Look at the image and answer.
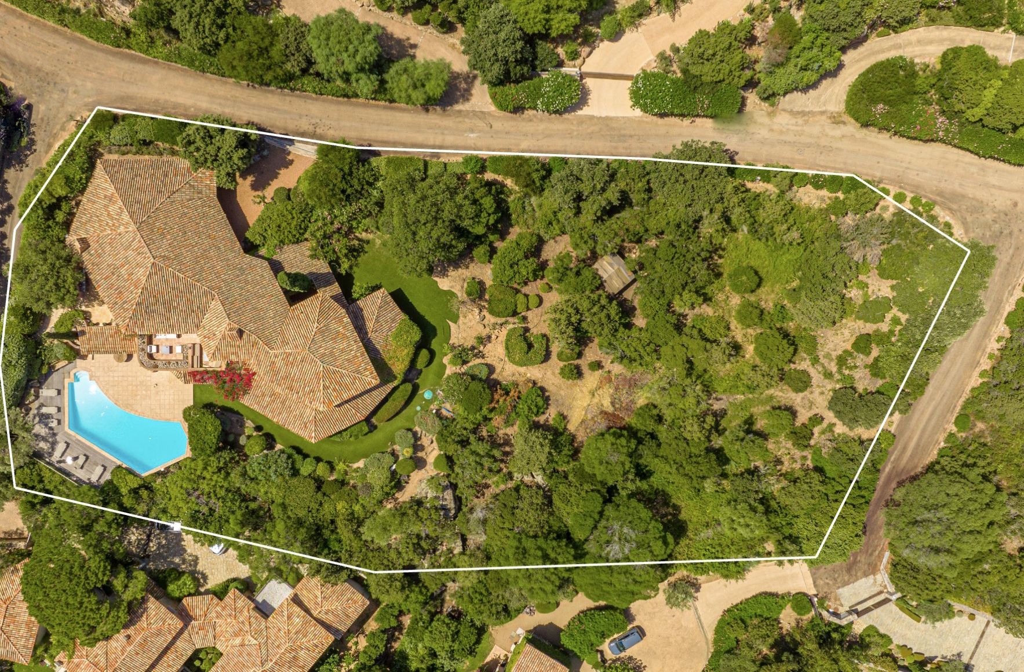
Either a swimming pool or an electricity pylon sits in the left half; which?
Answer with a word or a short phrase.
swimming pool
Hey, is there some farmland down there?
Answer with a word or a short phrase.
No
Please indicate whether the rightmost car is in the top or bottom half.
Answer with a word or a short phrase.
bottom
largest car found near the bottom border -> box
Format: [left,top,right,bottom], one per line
[607,624,644,654]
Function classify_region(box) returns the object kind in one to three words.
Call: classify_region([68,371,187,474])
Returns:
swimming pool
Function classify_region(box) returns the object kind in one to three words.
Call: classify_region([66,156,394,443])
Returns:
house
